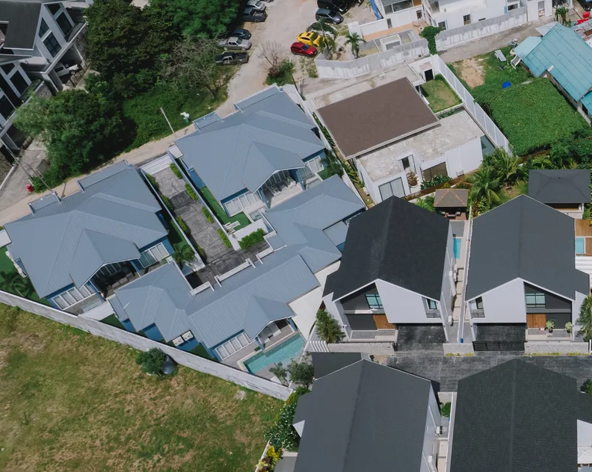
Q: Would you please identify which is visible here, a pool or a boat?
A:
pool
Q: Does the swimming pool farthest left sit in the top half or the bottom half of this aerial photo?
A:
bottom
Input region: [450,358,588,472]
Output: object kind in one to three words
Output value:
house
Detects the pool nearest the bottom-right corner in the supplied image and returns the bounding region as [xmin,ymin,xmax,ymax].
[574,235,587,256]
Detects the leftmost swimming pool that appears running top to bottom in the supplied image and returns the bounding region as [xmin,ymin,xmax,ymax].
[453,235,466,262]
